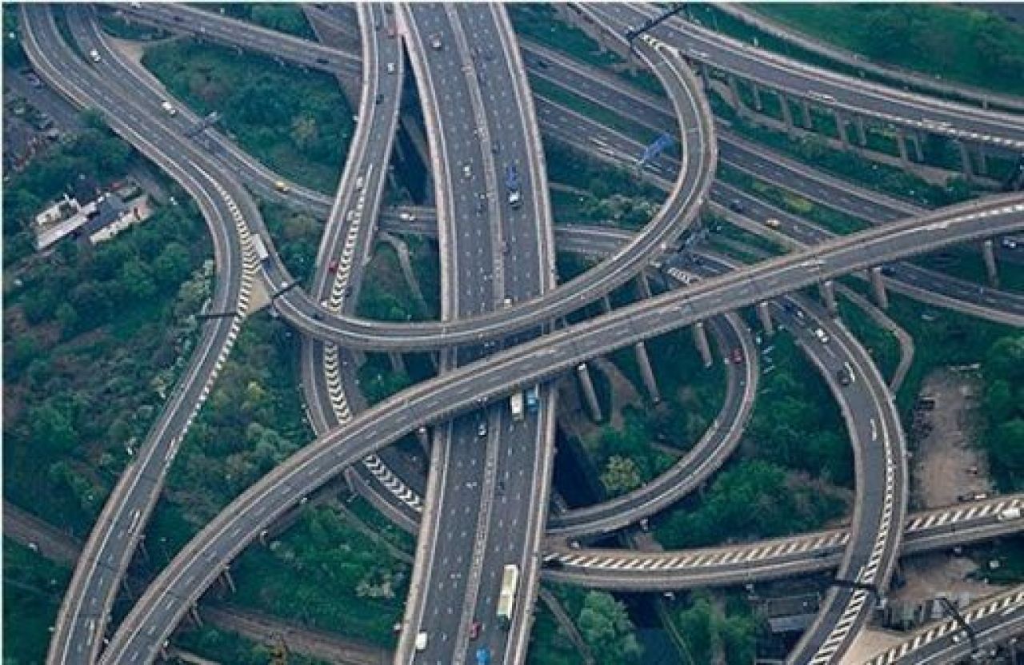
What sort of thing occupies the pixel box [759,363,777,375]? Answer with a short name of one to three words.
vehicle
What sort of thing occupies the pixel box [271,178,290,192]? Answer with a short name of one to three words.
vehicle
